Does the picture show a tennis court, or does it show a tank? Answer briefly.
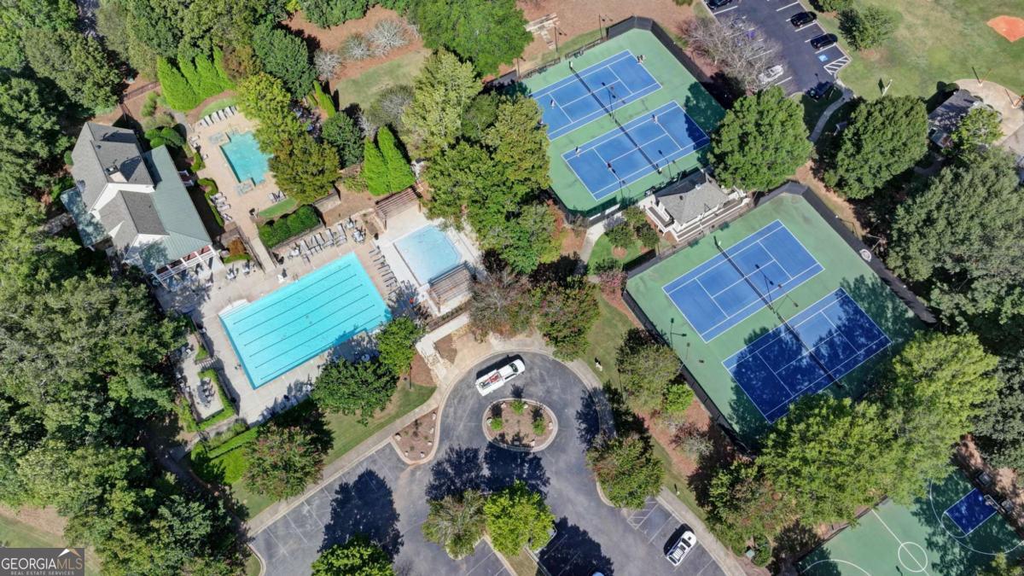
tennis court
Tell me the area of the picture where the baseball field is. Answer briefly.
top right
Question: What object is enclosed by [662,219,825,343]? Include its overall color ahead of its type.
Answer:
blue tennis court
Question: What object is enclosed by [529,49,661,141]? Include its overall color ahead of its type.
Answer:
blue tennis court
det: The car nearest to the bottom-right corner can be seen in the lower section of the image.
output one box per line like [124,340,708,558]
[666,529,699,565]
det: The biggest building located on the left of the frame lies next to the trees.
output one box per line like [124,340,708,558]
[65,123,225,292]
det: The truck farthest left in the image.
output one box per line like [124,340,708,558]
[480,363,521,392]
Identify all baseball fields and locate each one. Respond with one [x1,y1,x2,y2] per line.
[988,15,1024,42]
